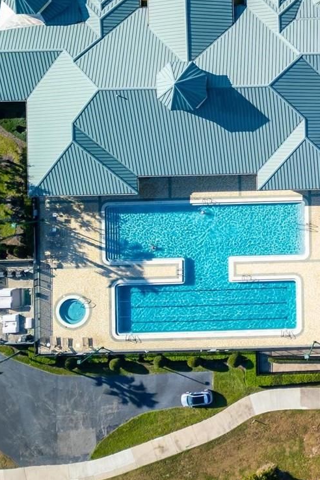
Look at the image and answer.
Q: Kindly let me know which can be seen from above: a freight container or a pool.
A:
pool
